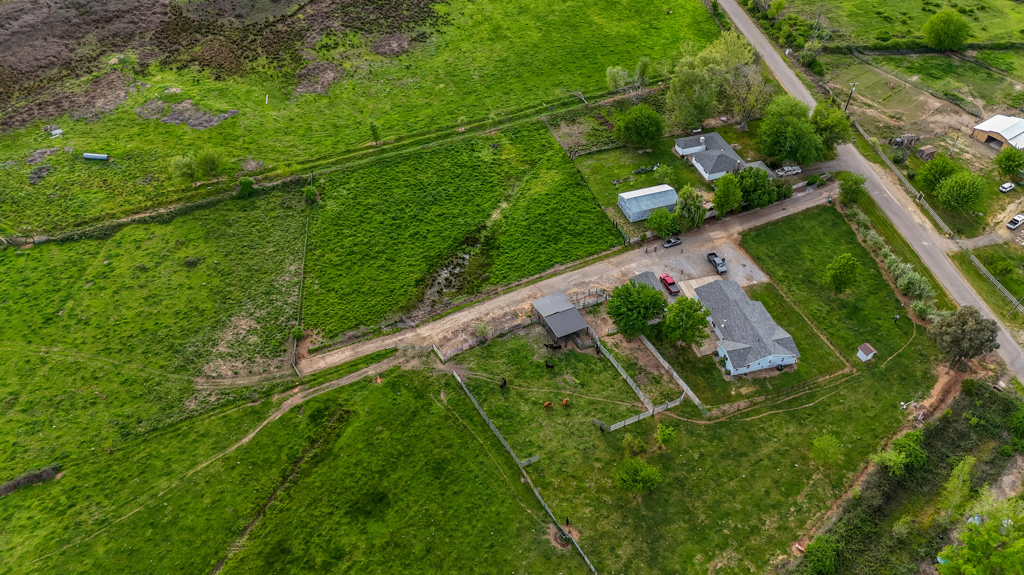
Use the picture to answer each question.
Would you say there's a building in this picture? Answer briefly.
Yes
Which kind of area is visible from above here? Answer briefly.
farmland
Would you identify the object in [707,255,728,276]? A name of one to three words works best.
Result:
truck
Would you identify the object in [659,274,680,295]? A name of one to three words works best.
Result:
truck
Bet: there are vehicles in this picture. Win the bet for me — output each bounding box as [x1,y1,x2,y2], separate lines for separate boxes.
[659,274,680,295]
[776,165,799,177]
[707,255,728,276]
[1006,214,1024,229]
[999,182,1016,192]
[662,237,683,248]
